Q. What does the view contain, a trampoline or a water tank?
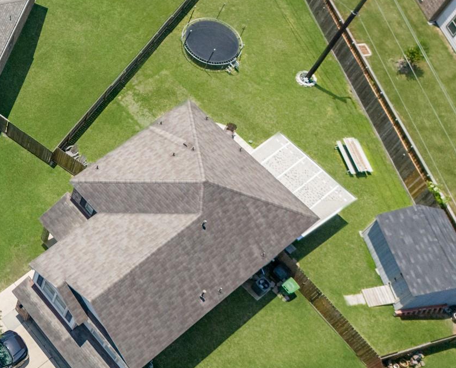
trampoline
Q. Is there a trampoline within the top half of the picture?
Yes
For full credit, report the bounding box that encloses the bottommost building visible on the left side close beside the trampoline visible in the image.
[12,100,321,368]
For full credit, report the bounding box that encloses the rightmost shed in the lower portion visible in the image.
[363,202,456,311]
